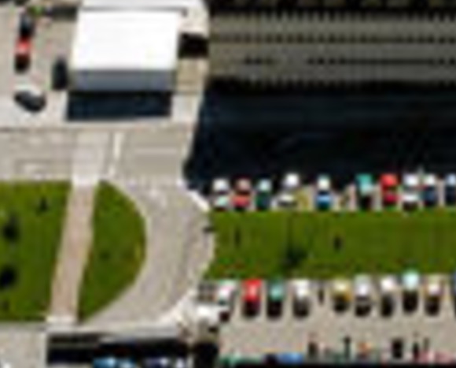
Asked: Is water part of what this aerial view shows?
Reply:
No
